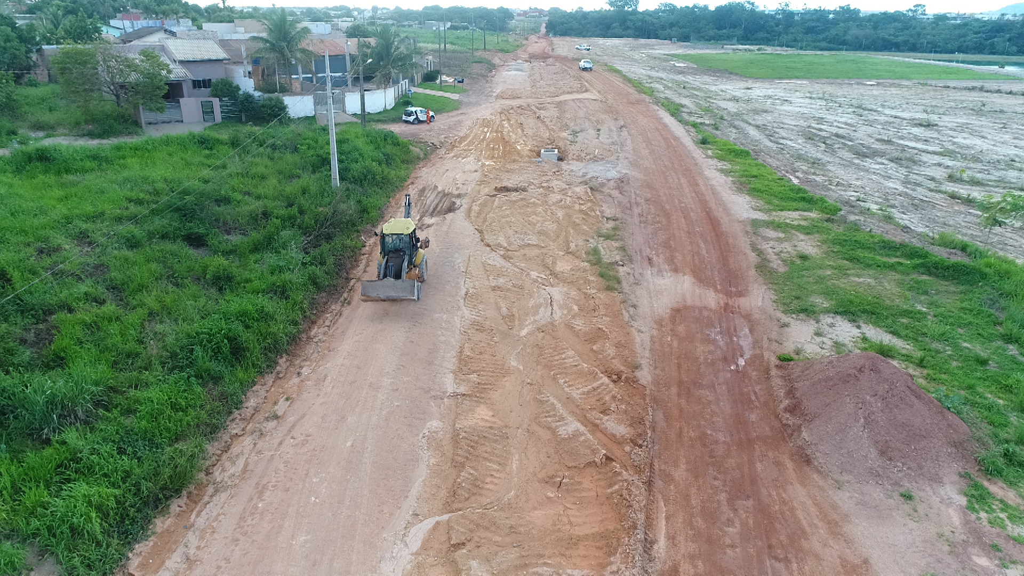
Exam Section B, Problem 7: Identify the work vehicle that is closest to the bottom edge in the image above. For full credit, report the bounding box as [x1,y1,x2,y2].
[361,193,433,303]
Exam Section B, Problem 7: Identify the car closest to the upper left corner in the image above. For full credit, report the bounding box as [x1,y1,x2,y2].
[400,107,437,124]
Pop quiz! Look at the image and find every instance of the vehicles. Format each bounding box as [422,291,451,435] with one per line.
[400,107,437,124]
[574,44,592,50]
[580,61,592,71]
[361,193,433,303]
